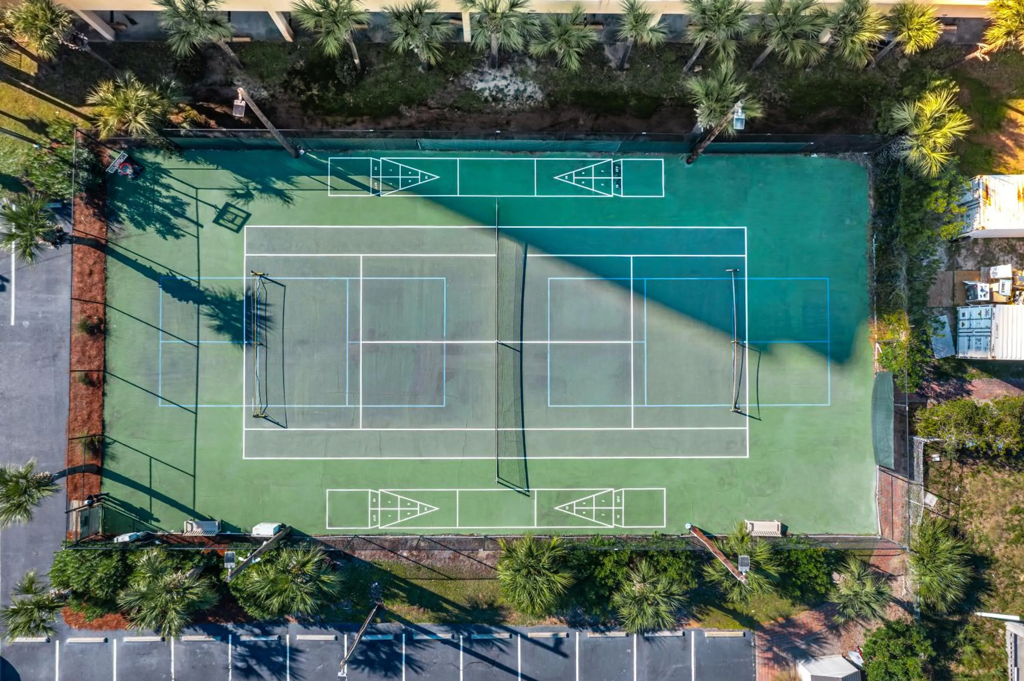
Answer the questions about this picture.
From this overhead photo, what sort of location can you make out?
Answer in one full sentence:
The area seen from above is a sports ground.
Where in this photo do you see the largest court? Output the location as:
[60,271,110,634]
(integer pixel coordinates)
[101,150,879,535]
